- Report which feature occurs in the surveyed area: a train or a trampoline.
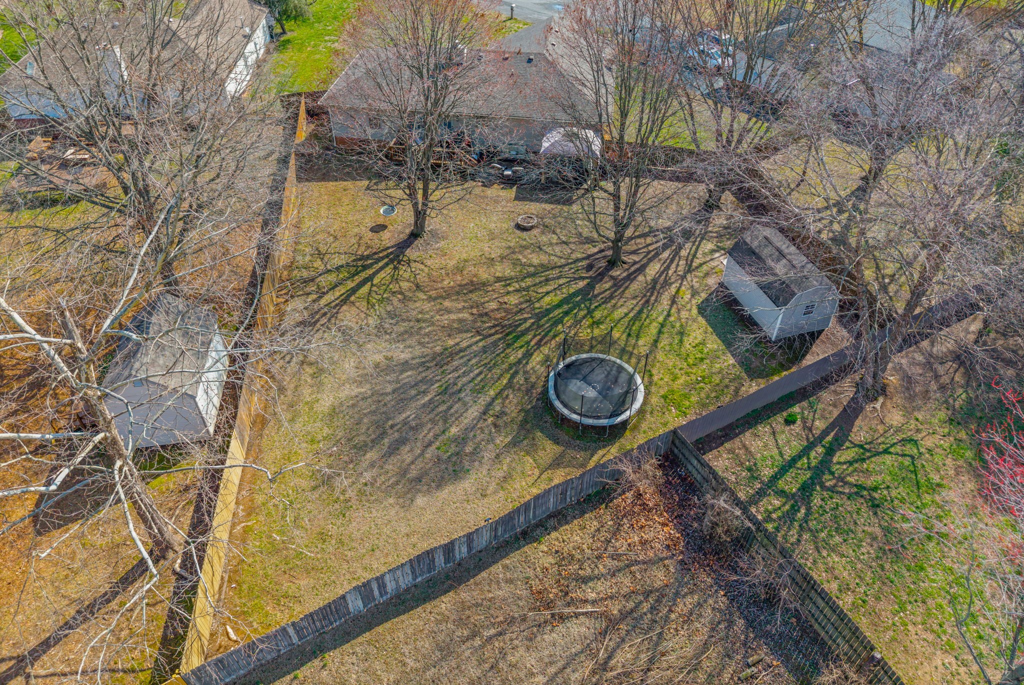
trampoline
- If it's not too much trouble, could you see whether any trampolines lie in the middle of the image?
Yes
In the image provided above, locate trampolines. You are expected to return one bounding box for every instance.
[546,326,649,436]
